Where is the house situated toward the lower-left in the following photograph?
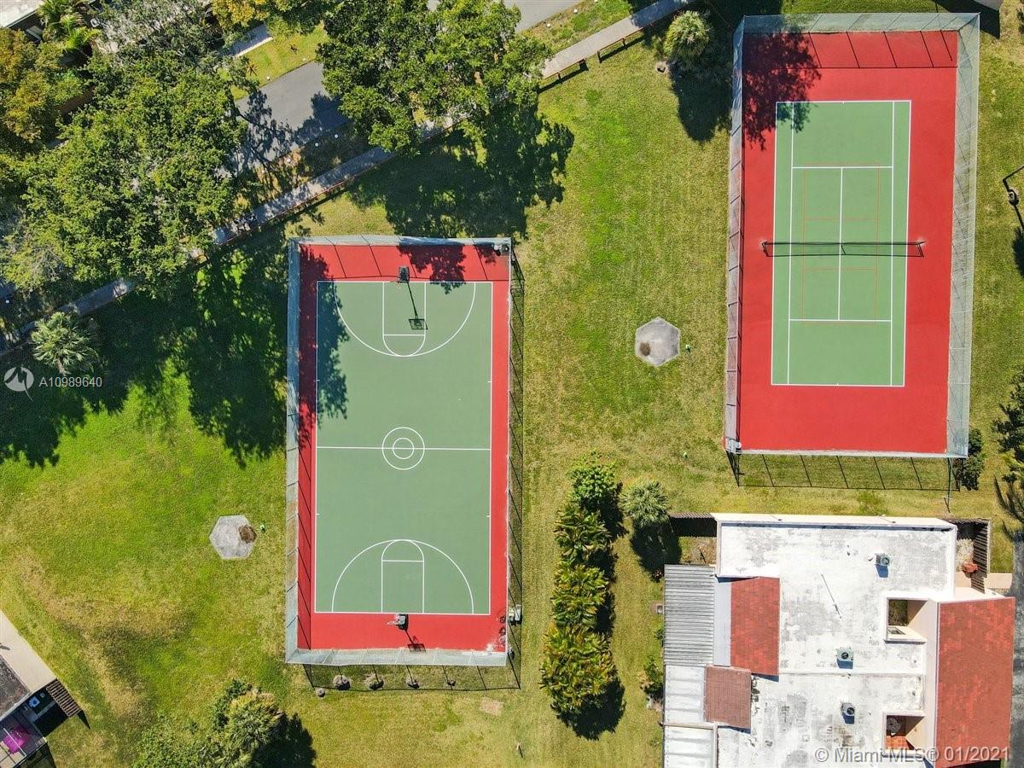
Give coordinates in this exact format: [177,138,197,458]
[0,611,56,728]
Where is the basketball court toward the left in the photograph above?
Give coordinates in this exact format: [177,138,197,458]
[295,243,511,654]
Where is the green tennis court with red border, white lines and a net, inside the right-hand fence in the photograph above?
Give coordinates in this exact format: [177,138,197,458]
[724,29,960,453]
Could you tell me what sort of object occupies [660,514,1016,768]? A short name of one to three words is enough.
house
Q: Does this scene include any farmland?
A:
No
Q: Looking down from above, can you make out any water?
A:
No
